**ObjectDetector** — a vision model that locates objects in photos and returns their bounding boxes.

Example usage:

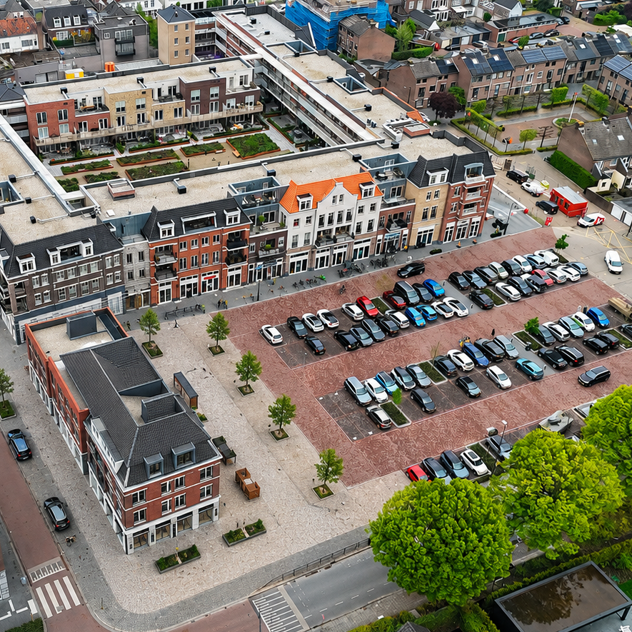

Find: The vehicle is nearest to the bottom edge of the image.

[43,498,73,534]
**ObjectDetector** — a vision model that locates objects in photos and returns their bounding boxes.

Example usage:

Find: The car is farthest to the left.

[8,433,33,461]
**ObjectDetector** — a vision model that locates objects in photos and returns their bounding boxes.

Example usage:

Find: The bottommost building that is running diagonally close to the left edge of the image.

[24,302,225,554]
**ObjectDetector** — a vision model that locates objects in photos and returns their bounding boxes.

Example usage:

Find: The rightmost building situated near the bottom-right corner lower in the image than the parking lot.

[497,561,632,632]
